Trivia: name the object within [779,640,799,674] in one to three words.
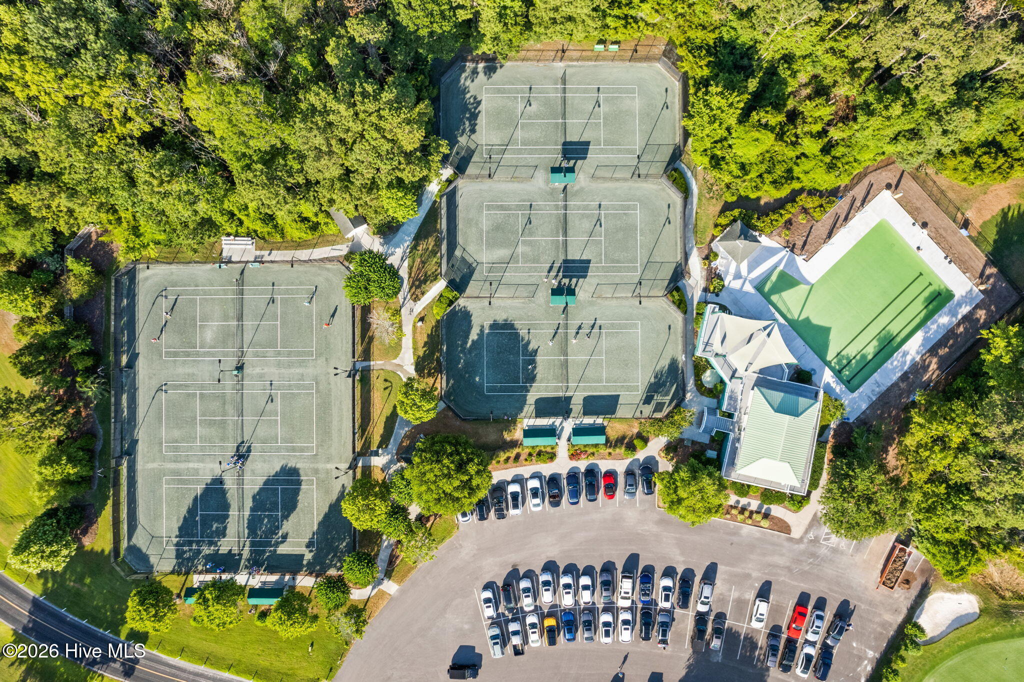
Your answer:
car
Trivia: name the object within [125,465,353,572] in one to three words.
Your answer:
tennis court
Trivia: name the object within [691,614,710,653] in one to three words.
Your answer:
vehicle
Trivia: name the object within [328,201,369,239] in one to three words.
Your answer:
shed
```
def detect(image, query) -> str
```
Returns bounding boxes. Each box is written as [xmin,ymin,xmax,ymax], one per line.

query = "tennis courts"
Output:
[125,262,354,370]
[125,465,353,572]
[441,179,683,297]
[125,370,352,465]
[441,63,681,179]
[443,297,685,419]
